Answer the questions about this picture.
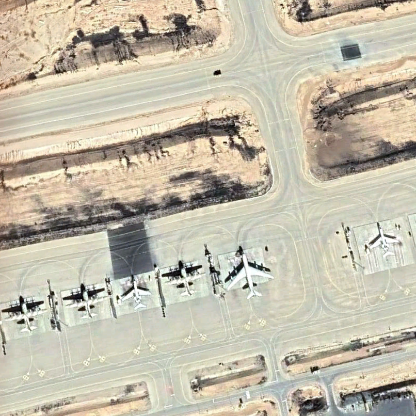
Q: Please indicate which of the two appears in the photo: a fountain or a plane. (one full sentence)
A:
It is a plane that can be seen here.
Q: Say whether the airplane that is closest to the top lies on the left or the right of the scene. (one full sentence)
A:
It is on the right.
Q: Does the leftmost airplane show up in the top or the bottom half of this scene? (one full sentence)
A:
You can find the leftmost airplane in the bottom half.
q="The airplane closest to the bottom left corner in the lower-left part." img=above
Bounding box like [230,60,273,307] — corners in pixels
[5,303,48,333]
